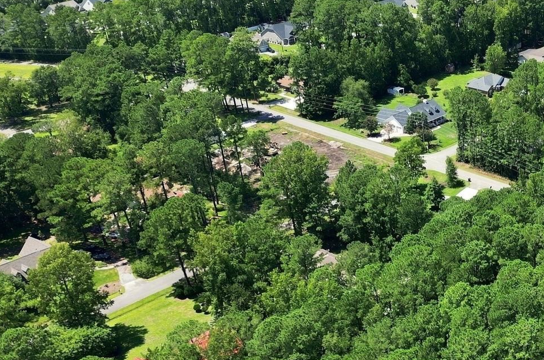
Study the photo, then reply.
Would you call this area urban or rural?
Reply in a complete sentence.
From above, the setting appears rural.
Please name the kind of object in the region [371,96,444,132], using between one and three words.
house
